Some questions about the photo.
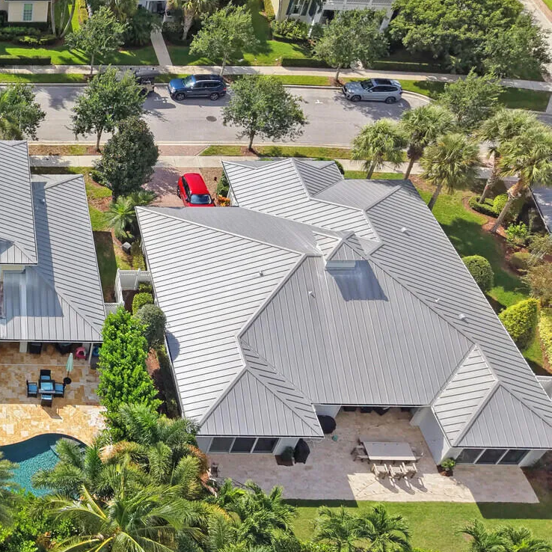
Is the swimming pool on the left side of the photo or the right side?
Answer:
left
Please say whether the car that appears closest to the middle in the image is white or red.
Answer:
red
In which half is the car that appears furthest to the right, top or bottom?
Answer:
top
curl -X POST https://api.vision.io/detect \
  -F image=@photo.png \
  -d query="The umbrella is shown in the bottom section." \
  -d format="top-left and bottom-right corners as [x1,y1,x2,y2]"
[61,354,74,385]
